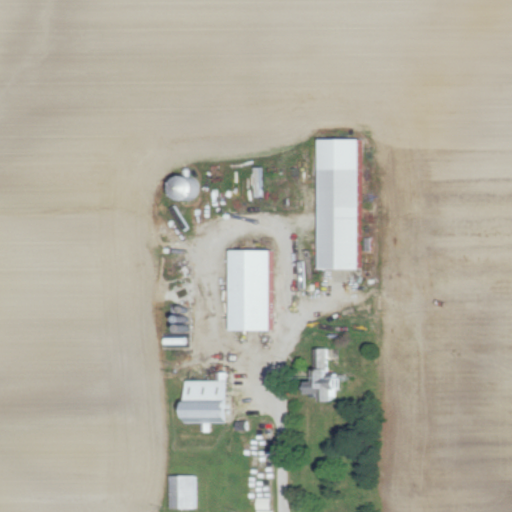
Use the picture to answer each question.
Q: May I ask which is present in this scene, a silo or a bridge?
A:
silo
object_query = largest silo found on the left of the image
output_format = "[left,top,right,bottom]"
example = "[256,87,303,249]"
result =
[165,174,200,202]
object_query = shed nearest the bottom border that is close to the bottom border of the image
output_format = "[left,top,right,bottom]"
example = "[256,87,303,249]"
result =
[169,476,200,510]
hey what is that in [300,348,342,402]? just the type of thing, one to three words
house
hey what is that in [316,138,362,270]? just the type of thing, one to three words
building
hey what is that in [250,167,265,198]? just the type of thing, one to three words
shed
